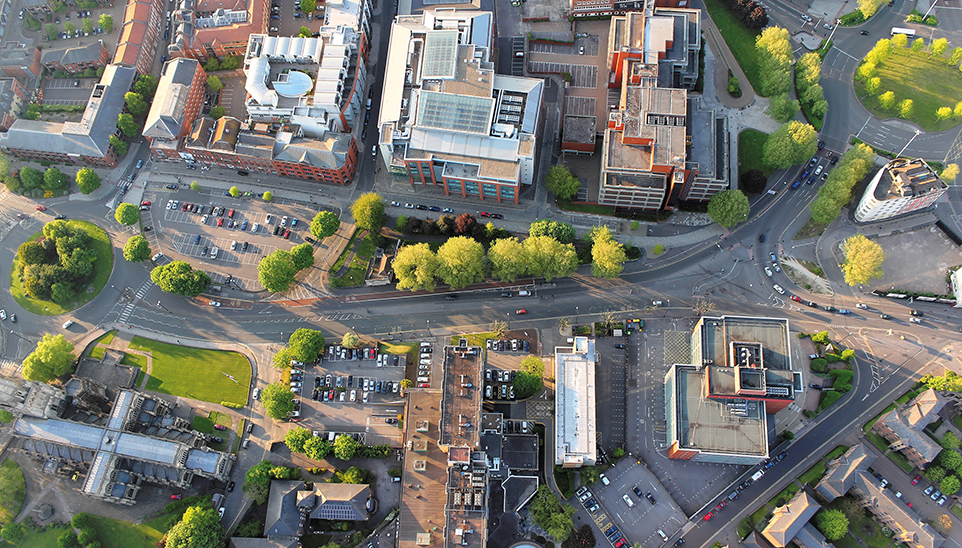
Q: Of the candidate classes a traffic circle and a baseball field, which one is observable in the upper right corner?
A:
traffic circle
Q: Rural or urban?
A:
urban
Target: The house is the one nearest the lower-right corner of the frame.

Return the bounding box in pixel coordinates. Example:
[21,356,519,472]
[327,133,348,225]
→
[847,468,949,548]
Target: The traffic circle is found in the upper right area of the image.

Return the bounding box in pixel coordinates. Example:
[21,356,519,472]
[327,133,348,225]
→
[853,47,962,132]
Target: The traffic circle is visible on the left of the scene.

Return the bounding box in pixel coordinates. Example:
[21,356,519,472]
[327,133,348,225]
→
[9,219,114,316]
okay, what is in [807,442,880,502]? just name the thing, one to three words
house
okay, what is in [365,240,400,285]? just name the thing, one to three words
house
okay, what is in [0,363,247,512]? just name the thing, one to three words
church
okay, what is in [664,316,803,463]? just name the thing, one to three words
building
